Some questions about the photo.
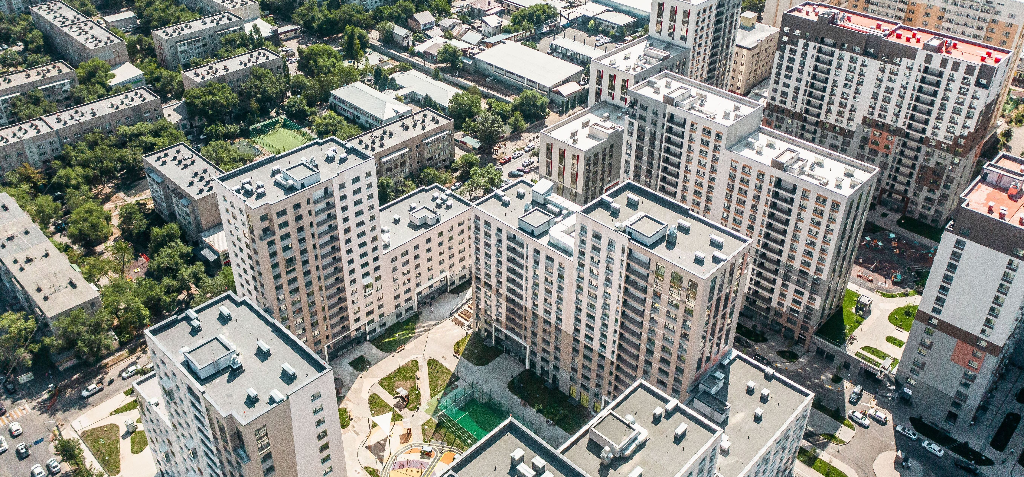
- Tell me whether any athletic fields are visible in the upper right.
No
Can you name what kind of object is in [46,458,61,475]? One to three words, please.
car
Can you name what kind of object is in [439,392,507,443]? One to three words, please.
sports court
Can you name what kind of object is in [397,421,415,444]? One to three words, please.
building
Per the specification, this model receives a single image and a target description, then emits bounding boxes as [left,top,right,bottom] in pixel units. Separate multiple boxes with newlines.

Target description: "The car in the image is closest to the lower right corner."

[955,458,981,474]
